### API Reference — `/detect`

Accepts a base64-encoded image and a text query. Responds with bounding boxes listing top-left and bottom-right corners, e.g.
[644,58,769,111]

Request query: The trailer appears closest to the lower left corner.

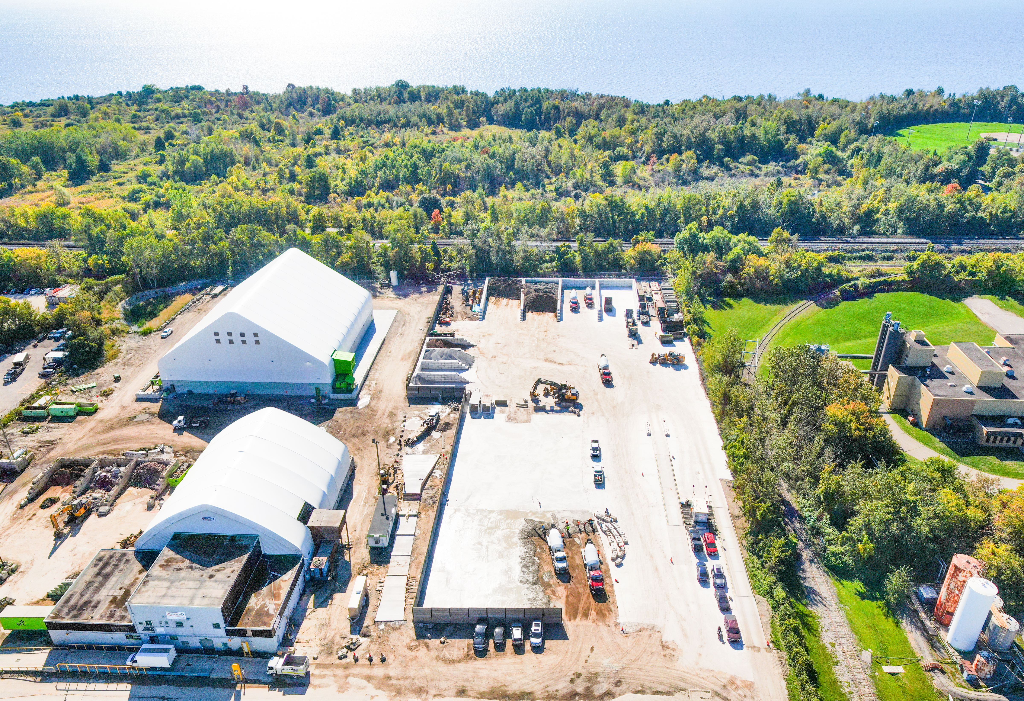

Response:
[0,598,54,628]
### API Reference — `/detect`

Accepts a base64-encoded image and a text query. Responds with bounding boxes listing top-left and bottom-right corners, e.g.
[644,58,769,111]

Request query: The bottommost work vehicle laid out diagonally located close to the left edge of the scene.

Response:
[51,498,96,538]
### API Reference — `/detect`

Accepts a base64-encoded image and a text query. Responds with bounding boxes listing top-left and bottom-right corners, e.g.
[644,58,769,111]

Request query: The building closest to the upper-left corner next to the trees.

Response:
[157,244,372,396]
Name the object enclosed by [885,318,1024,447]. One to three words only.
building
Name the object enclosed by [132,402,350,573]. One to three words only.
building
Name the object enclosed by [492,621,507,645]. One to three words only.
car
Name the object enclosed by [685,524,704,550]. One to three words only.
vehicle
